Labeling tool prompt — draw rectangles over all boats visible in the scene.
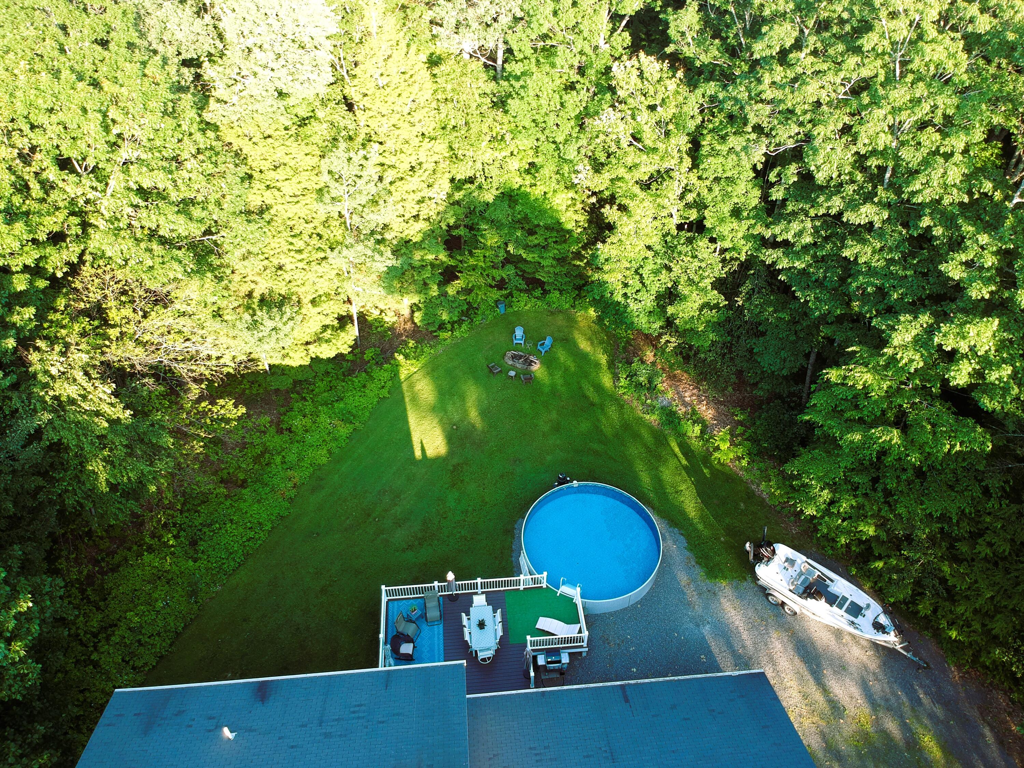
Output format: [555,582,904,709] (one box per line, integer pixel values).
[741,525,903,642]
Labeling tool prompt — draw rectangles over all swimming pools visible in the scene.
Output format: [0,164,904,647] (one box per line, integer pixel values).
[521,480,662,618]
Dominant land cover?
trees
